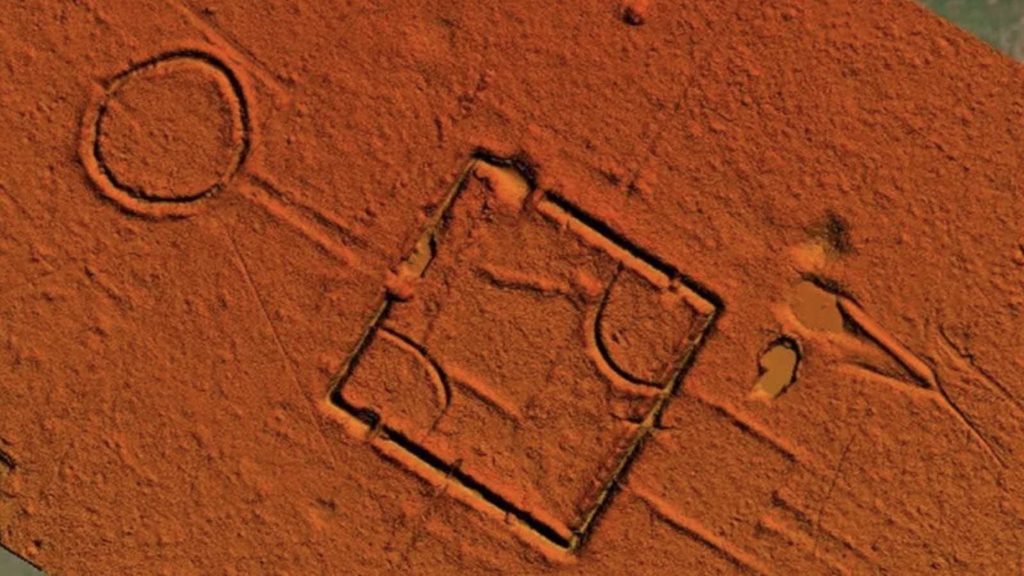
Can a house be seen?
No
